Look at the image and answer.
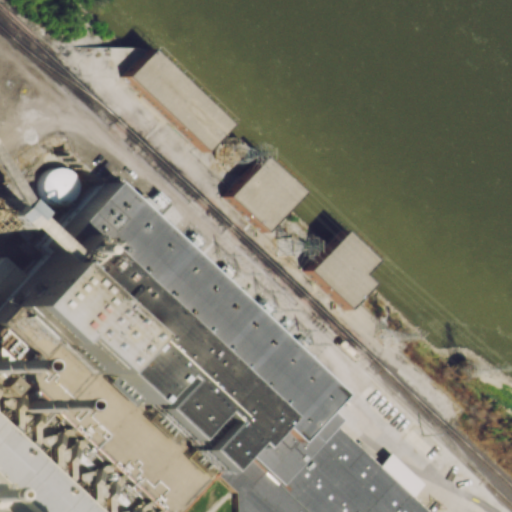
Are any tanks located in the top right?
No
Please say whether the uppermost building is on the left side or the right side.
left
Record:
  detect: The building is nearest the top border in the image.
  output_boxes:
[120,50,237,152]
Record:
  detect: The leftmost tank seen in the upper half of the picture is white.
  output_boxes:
[35,168,82,208]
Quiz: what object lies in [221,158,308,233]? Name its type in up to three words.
building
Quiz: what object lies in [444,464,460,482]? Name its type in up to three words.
vehicle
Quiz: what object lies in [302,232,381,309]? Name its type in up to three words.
building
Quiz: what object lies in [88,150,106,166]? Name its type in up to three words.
vehicle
